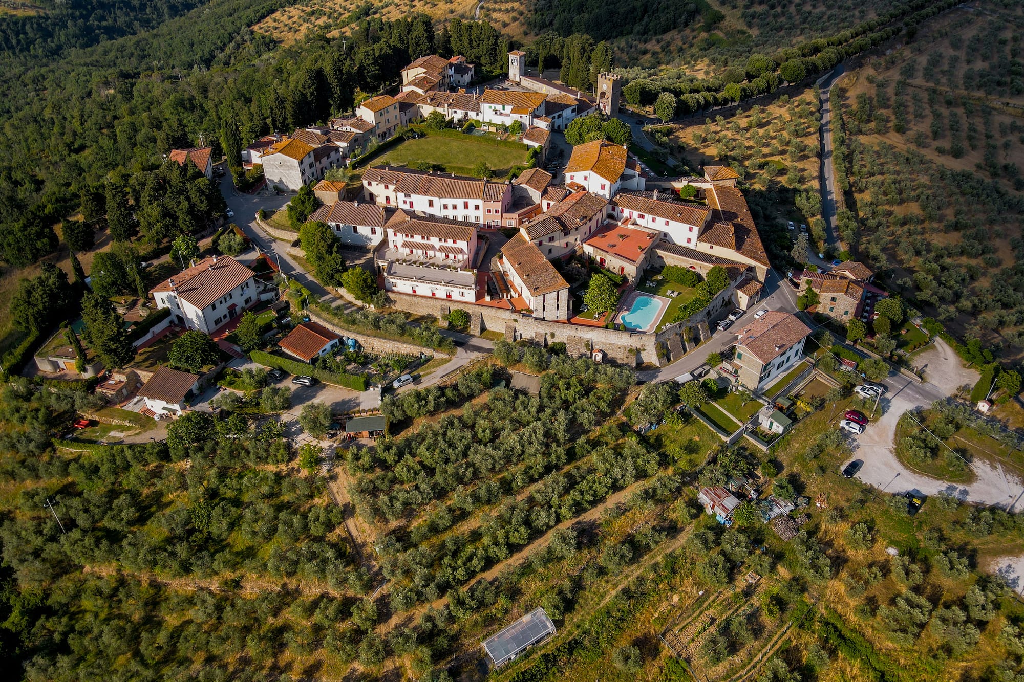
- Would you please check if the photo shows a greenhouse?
Yes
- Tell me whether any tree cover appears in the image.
Yes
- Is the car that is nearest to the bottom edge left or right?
right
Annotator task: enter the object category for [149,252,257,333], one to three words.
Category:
house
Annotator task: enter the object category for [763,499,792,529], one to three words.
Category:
shed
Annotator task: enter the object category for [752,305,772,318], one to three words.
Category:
vehicle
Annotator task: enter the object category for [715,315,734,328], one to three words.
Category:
vehicle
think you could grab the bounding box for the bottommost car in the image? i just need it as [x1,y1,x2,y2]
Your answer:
[842,453,867,477]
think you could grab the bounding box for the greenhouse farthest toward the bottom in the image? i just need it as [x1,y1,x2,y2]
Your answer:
[483,613,561,676]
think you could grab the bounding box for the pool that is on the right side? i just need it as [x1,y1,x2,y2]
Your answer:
[613,290,672,331]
